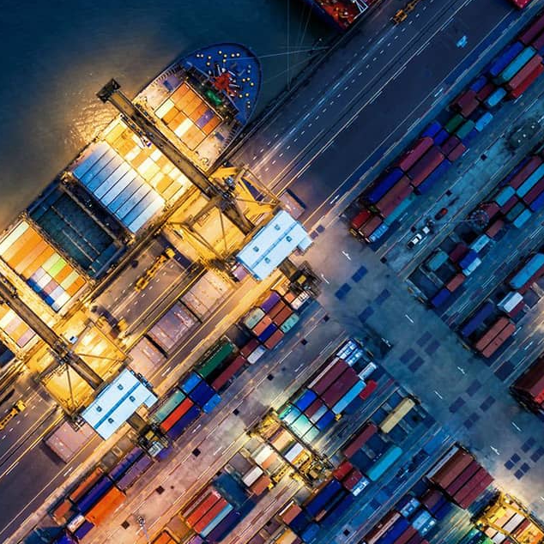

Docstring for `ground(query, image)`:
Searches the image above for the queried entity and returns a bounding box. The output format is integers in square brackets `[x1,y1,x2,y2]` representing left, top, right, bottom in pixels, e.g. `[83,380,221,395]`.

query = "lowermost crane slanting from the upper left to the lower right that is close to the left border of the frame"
[0,263,157,440]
